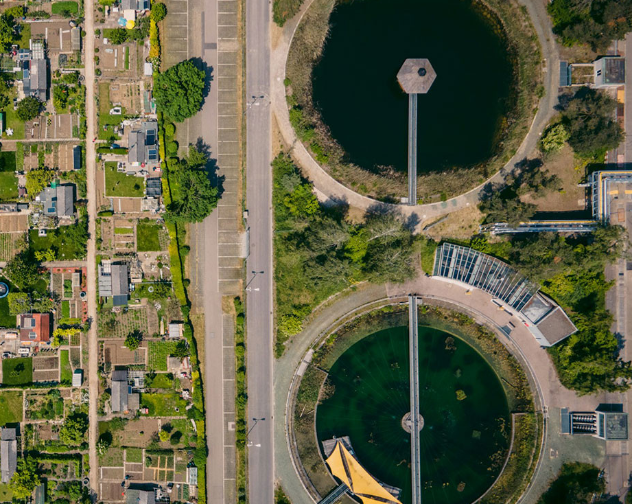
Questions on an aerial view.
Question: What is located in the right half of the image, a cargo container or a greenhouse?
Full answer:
Looking in the right half of the image, you will find a greenhouse.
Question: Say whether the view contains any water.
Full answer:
Yes, some water is visible.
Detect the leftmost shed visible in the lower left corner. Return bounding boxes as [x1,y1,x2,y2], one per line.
[1,426,17,484]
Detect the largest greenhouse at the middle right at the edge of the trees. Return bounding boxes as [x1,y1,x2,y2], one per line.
[433,244,547,323]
